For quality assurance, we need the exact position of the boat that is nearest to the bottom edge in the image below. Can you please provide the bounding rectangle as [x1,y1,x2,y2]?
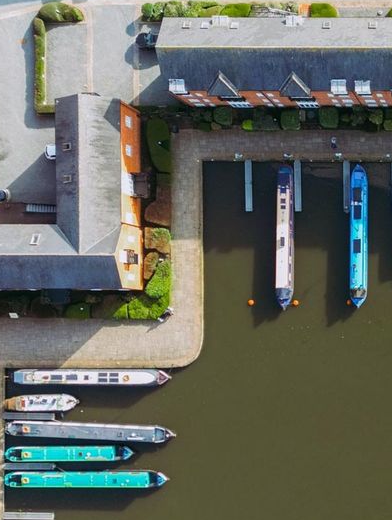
[1,469,170,488]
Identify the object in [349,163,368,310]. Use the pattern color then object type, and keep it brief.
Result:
blue boat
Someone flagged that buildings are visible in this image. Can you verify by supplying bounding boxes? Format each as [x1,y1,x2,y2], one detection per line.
[157,16,392,111]
[0,90,154,304]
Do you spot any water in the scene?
Yes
